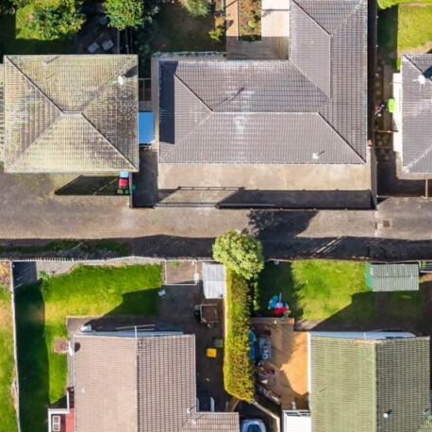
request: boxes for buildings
[71,327,241,432]
[0,52,140,175]
[361,263,421,291]
[391,52,432,176]
[199,260,226,298]
[304,330,432,432]
[156,0,369,166]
